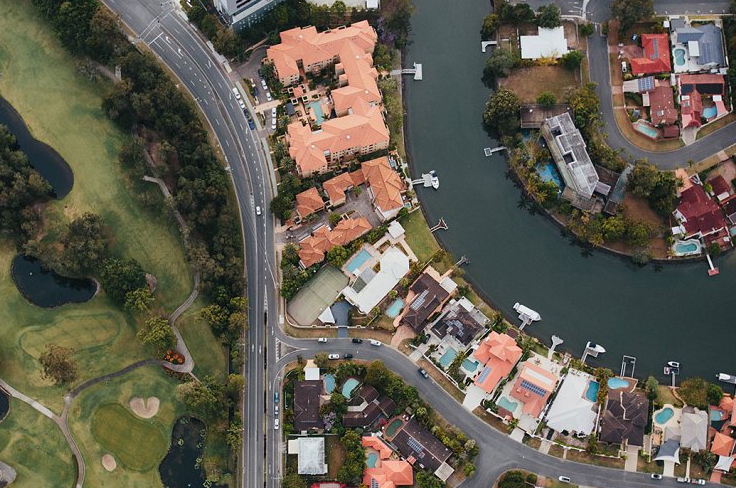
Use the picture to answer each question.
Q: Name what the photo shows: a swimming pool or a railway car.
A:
swimming pool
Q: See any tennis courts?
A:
Yes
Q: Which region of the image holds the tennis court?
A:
center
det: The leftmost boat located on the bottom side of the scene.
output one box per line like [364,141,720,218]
[513,302,541,319]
